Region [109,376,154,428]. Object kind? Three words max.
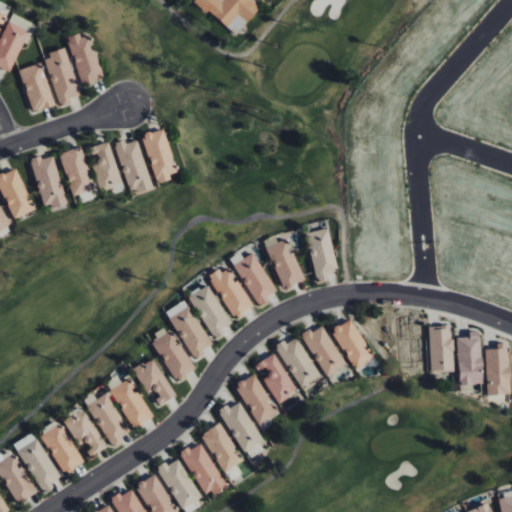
house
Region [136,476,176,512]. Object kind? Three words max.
house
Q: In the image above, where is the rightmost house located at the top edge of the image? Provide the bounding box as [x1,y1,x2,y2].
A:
[194,0,264,34]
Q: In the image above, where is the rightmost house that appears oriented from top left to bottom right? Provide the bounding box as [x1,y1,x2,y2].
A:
[333,318,375,369]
